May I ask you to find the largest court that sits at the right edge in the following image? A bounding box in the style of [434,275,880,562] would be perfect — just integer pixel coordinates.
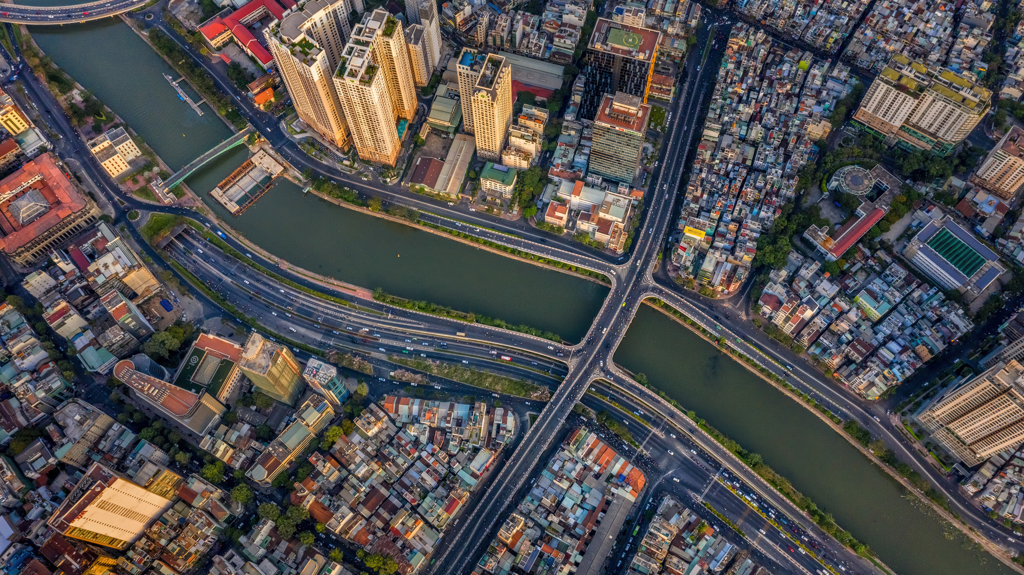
[928,228,986,277]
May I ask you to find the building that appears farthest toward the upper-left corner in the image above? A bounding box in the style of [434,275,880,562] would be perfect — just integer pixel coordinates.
[0,88,31,139]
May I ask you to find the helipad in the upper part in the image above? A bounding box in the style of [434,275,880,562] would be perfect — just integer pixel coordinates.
[606,27,643,50]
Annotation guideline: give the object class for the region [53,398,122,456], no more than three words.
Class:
building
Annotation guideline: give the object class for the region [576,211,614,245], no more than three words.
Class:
building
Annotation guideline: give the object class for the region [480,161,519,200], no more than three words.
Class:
house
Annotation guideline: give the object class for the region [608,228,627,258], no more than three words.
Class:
house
